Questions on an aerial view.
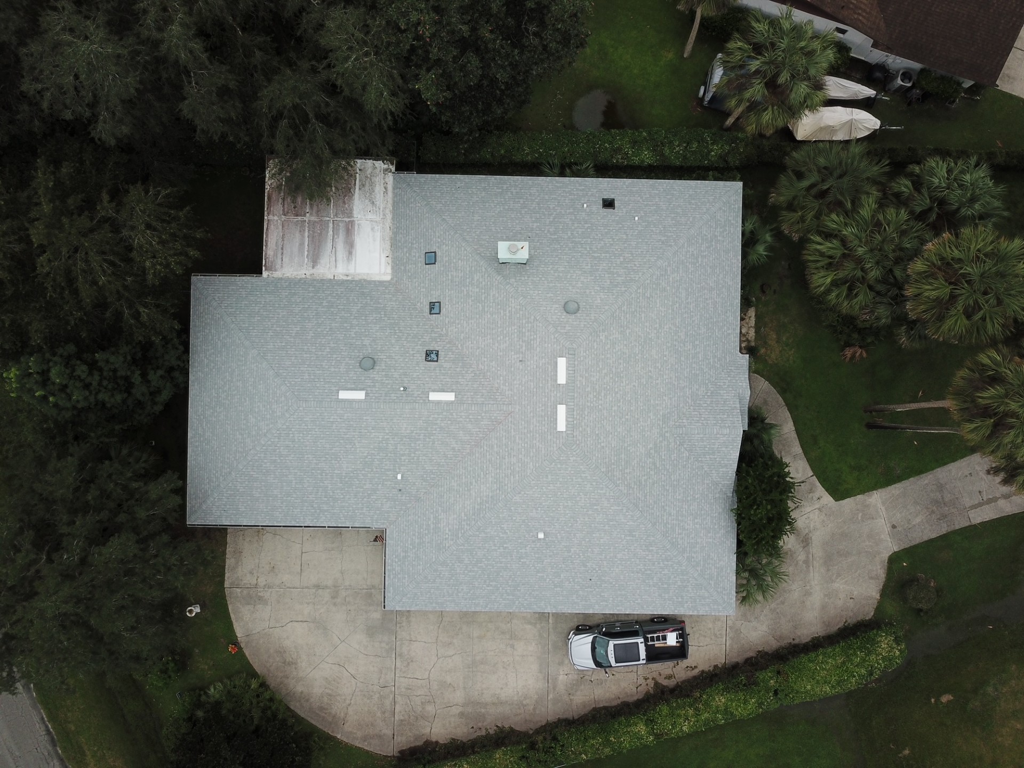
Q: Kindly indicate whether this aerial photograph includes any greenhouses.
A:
No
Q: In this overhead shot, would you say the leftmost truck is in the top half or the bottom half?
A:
bottom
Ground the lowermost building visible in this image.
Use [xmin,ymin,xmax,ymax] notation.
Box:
[185,168,754,617]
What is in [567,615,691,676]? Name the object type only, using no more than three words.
truck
